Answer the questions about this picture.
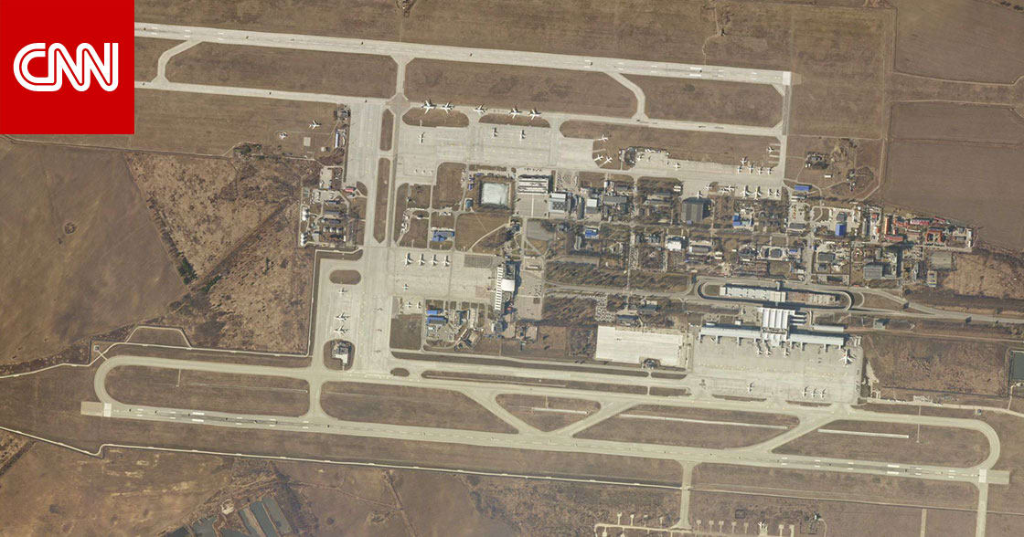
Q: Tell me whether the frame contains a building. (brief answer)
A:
Yes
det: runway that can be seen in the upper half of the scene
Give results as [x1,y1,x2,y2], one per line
[16,13,791,86]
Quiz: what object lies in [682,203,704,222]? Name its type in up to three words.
hangar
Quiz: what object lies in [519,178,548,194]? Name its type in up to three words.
building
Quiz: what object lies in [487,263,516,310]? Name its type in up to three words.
building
